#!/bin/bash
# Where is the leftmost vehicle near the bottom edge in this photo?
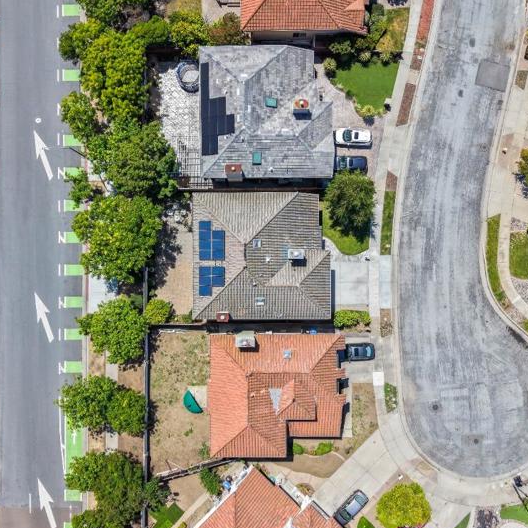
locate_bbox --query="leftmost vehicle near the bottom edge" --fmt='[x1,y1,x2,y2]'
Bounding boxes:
[333,489,370,527]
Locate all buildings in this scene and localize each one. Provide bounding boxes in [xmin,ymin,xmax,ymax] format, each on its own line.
[191,190,332,322]
[209,329,346,459]
[240,0,371,40]
[194,462,345,528]
[199,44,334,178]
